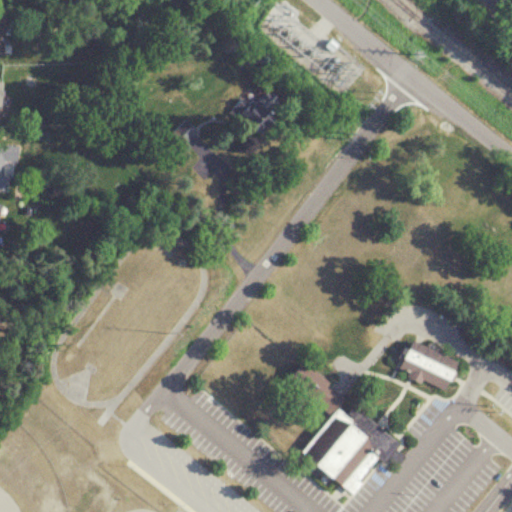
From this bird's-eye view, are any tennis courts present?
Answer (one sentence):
No, no tennis court is visible in the scene.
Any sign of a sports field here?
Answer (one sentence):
Yes, a sports field is visible in the scene.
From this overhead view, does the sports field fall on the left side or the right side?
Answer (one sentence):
The sports field appears in the left half of the scene.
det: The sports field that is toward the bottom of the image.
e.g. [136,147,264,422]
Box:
[52,238,206,426]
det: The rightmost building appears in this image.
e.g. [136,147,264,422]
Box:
[402,342,460,390]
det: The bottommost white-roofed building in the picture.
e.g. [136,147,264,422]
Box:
[303,408,381,496]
